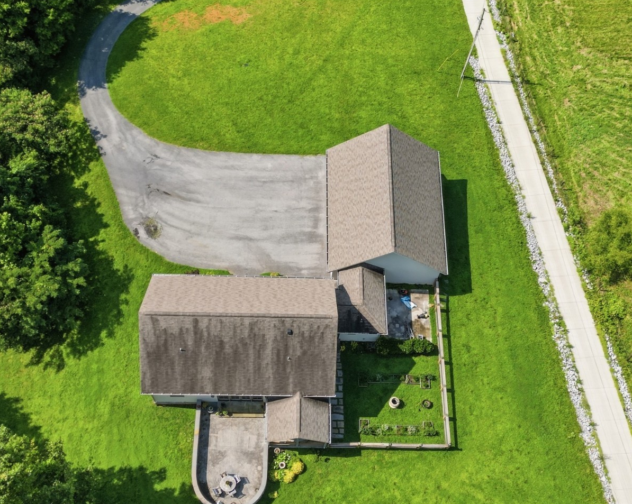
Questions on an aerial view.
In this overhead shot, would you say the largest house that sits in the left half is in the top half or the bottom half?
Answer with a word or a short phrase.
bottom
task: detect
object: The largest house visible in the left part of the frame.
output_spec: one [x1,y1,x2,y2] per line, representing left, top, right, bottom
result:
[137,273,338,419]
